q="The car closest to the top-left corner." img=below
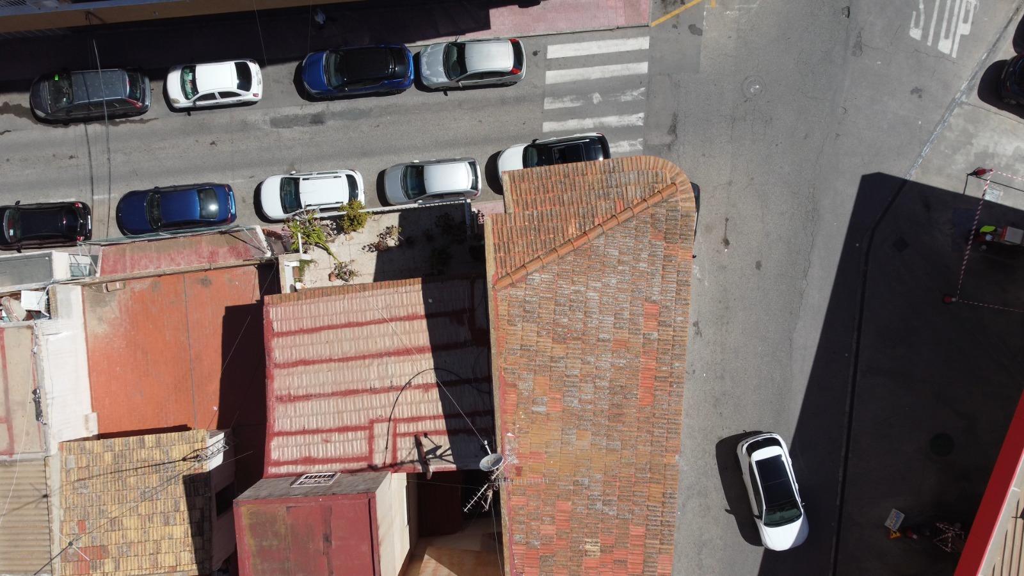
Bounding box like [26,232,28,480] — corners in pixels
[29,67,151,127]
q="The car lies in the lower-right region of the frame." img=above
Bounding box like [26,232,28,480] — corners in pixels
[733,429,809,549]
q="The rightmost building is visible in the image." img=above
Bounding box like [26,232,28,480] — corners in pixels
[486,154,697,576]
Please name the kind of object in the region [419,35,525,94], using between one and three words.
car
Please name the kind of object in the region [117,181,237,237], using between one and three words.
car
